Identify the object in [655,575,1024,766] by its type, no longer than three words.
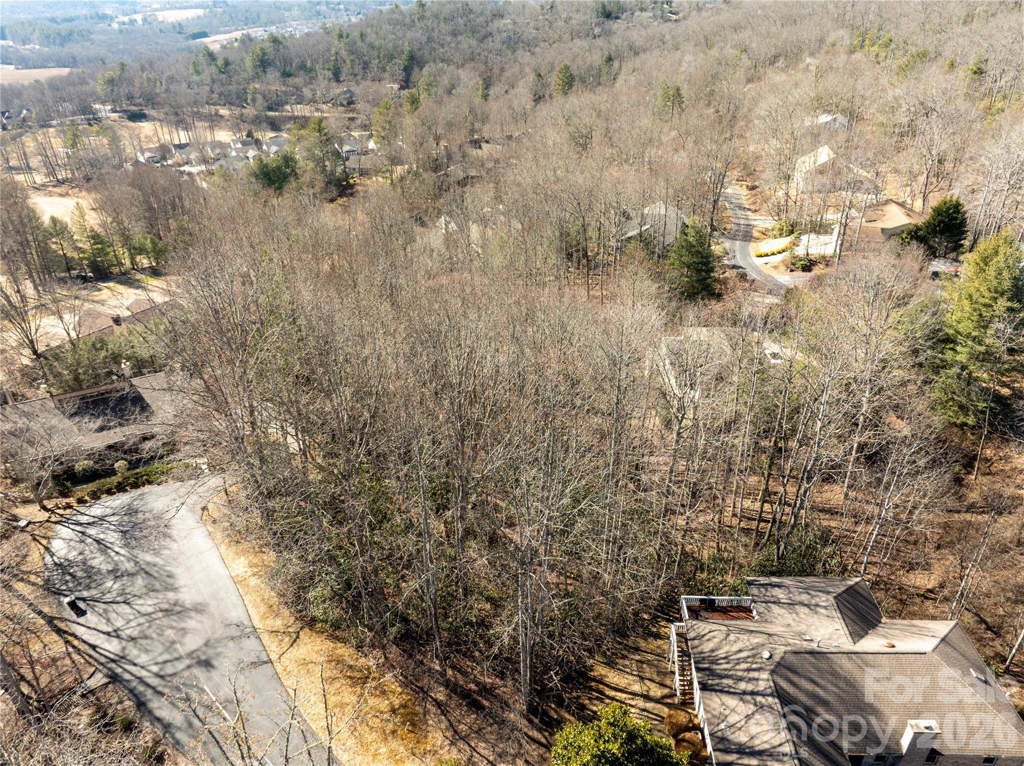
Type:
house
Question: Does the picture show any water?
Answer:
No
